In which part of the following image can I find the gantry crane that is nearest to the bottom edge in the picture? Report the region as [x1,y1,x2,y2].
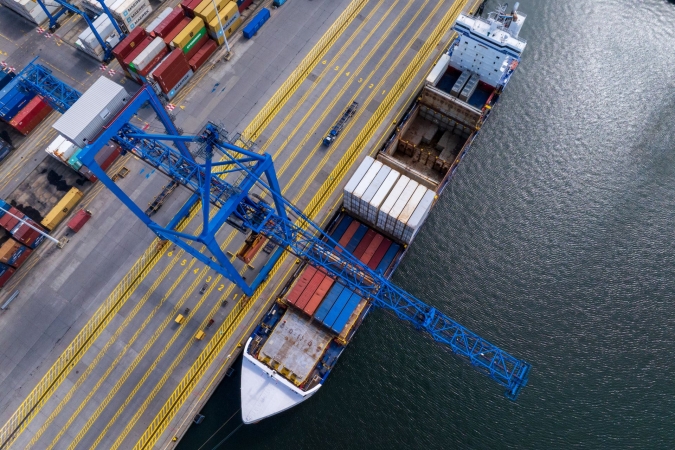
[22,61,531,398]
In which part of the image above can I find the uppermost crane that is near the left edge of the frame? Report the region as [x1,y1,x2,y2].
[33,0,129,63]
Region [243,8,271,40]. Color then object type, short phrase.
blue shipping container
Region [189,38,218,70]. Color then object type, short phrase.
red shipping container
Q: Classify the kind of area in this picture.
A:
port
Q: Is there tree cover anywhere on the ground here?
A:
No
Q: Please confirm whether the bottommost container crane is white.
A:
No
